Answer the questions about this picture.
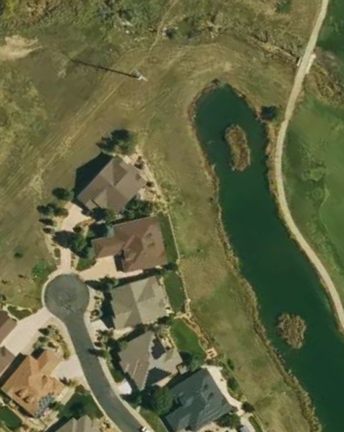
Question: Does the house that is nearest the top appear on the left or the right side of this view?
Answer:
left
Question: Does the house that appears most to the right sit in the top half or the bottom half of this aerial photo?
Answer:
bottom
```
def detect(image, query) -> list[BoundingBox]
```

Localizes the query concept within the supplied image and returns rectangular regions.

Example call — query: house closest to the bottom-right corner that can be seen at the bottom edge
[161,365,232,432]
